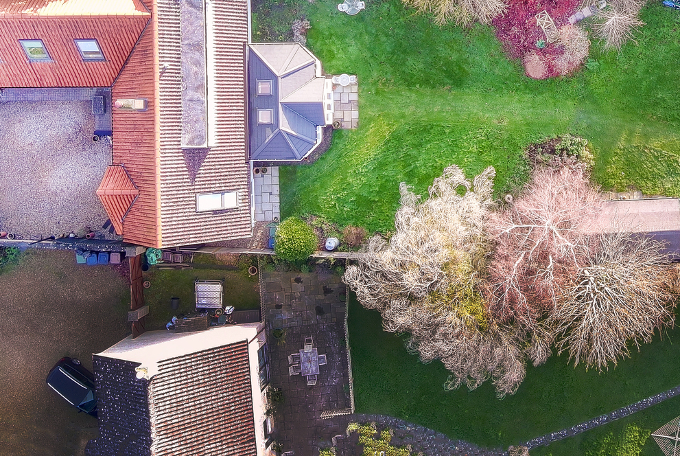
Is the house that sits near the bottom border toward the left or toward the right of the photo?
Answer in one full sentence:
It is on the left.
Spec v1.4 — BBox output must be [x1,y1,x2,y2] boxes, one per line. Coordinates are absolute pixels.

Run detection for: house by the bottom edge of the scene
[87,318,277,456]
